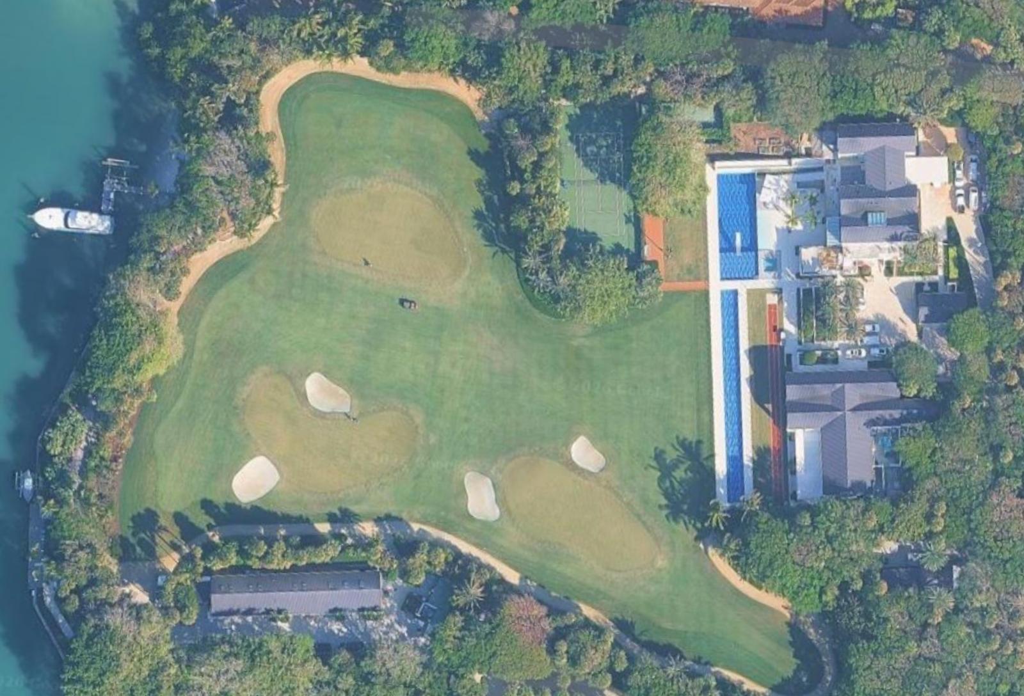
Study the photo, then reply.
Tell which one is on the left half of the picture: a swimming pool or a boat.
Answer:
boat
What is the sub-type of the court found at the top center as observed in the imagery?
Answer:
tennis court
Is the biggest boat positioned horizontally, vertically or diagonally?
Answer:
horizontally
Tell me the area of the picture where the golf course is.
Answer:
center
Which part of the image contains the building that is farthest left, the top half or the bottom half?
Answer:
bottom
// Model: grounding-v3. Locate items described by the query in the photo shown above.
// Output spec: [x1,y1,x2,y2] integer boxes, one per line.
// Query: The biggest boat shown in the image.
[28,208,117,236]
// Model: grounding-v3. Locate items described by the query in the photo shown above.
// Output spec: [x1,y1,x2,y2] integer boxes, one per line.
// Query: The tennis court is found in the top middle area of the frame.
[558,101,643,257]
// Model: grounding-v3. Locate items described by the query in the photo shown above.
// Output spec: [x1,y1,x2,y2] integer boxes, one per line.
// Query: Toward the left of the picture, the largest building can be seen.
[209,571,381,617]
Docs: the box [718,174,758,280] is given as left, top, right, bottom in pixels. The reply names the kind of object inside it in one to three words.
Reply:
swimming pool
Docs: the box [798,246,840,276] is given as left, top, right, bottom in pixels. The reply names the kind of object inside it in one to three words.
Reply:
building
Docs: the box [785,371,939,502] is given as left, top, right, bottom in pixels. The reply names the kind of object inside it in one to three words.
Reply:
house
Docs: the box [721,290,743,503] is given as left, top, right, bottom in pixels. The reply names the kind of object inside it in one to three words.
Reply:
swimming pool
